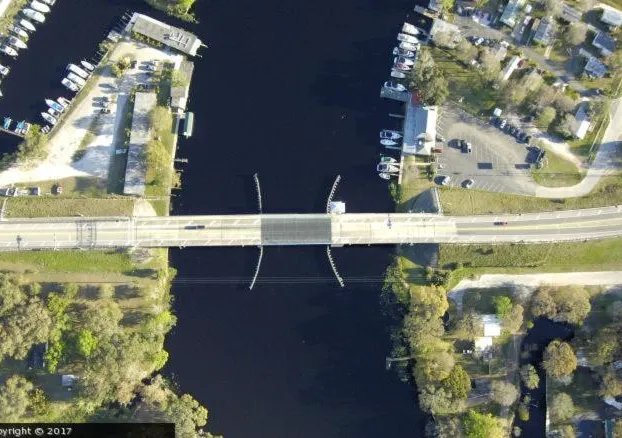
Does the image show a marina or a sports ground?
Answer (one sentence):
It's a marina.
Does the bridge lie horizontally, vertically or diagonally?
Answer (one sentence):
The bridge is laid out horizontally.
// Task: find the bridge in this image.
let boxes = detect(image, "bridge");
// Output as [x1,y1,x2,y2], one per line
[133,189,444,267]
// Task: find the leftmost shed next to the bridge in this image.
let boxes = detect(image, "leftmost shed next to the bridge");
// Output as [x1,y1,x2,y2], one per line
[122,91,158,196]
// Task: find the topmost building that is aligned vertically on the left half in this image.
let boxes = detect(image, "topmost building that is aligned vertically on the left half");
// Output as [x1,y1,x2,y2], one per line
[171,61,191,107]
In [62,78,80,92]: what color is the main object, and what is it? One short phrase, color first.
white boat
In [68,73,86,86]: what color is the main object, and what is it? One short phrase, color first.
white boat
